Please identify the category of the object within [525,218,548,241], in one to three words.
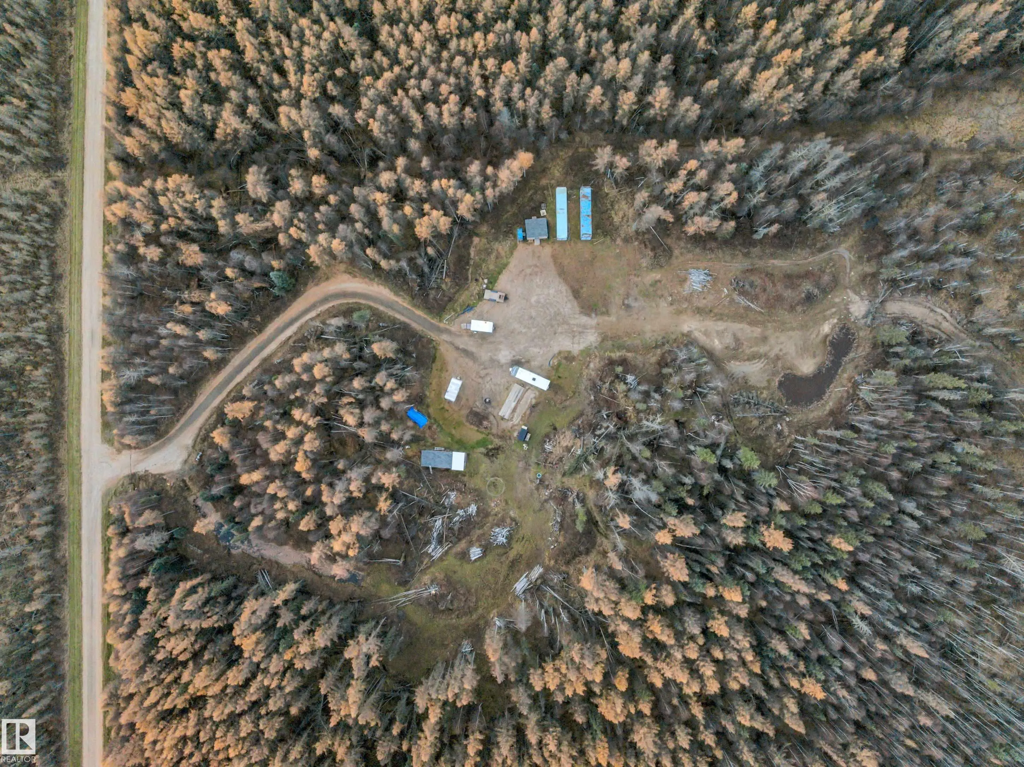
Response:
shed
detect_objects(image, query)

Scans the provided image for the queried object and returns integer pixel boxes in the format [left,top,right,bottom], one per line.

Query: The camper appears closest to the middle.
[508,366,550,390]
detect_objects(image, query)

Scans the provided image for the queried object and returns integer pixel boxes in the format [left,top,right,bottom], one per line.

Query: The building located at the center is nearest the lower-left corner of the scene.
[421,450,469,470]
